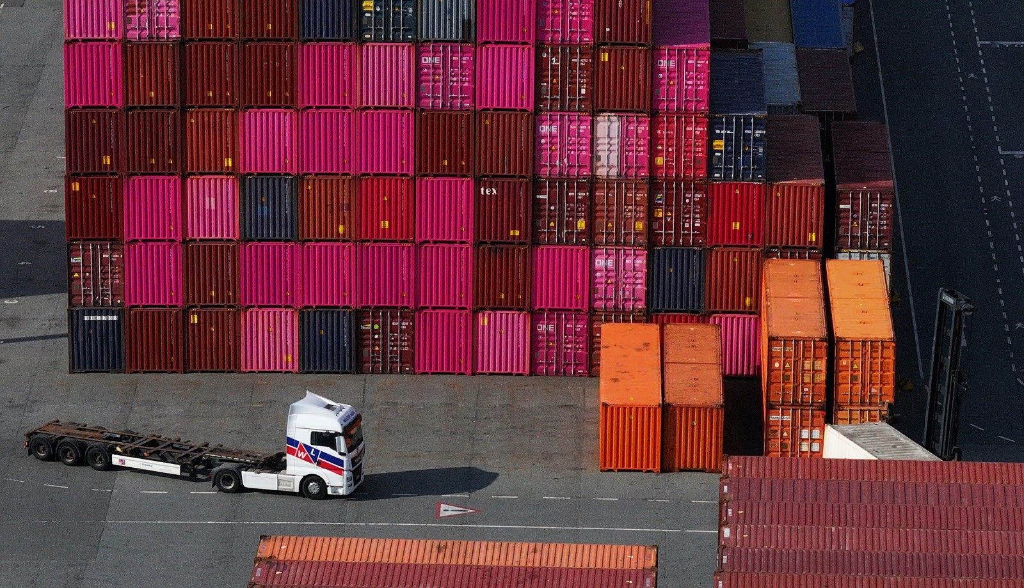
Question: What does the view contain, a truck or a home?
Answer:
truck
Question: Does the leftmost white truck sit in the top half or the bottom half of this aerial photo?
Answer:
bottom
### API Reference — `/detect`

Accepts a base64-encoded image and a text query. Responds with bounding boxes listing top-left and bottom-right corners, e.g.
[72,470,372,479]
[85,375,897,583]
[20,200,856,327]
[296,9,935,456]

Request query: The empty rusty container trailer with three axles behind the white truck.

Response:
[23,419,286,481]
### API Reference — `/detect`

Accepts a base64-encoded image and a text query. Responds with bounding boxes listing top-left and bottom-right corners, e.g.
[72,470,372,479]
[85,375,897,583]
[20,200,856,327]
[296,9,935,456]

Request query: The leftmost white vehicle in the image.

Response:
[209,390,364,502]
